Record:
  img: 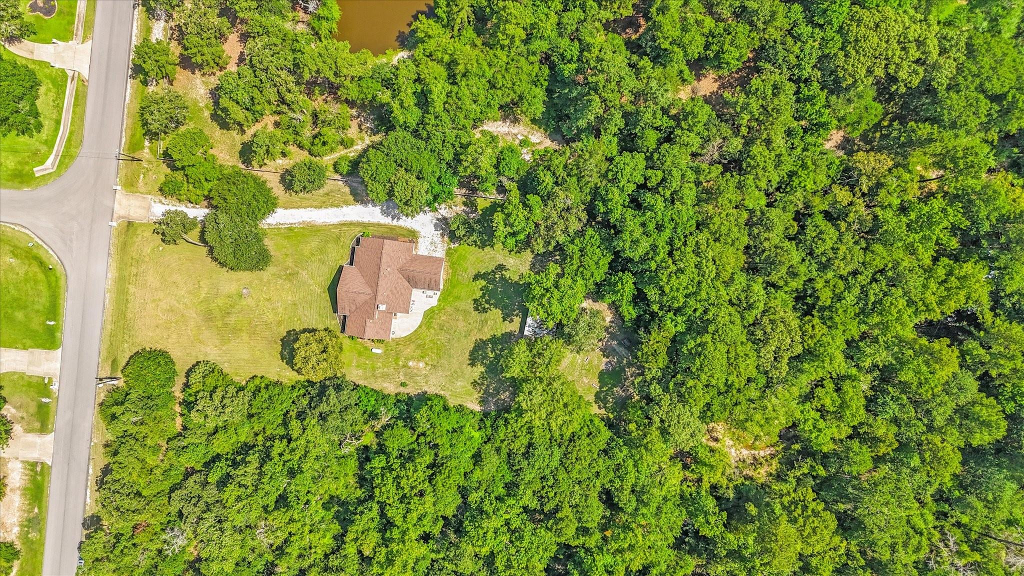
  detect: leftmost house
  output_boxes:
[337,237,444,340]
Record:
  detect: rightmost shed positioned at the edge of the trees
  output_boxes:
[527,313,556,341]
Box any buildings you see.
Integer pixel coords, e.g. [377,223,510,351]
[527,313,556,341]
[337,237,444,340]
